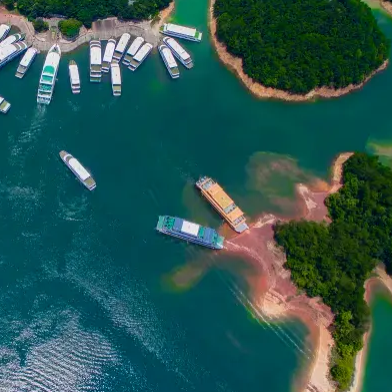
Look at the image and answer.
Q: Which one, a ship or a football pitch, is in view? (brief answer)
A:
ship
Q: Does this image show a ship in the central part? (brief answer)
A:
Yes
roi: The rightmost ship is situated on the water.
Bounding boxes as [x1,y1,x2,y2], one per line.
[196,176,248,233]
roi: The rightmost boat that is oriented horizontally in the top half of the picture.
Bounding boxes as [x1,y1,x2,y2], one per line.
[159,27,201,44]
